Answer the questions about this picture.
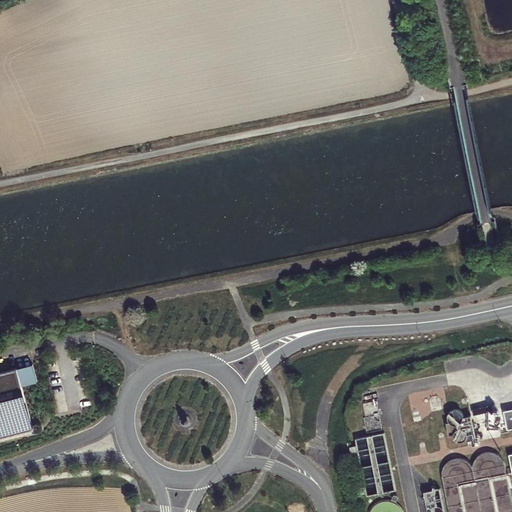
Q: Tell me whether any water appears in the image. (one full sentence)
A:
Yes, some water is visible.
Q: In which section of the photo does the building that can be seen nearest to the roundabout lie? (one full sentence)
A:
The building that can be seen nearest to the roundabout is in the bottom left part of the image.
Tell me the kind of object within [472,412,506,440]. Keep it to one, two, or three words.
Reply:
building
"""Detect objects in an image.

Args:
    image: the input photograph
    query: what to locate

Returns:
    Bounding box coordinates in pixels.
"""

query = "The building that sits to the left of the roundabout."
[0,366,38,442]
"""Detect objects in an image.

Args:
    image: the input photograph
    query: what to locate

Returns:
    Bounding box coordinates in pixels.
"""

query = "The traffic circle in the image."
[116,350,256,489]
